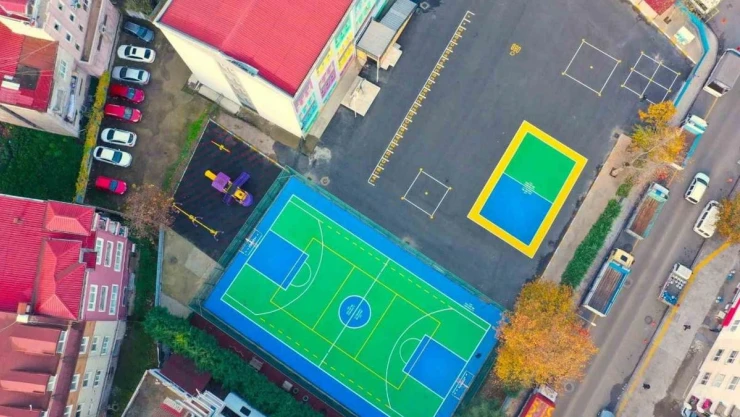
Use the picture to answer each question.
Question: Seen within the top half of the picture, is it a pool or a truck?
truck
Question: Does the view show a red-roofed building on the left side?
Yes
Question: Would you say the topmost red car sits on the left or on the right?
left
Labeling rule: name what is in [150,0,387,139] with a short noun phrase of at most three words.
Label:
building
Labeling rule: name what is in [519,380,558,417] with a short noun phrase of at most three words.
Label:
truck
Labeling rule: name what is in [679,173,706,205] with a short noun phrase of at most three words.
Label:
vehicle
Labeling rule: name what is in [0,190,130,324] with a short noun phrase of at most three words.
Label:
house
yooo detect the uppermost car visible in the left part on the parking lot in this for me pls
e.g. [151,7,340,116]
[121,20,157,45]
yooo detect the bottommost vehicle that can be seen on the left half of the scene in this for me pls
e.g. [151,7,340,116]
[94,175,130,197]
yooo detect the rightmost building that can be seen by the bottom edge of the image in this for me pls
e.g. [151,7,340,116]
[681,305,740,417]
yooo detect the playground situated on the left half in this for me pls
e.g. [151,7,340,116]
[160,119,285,263]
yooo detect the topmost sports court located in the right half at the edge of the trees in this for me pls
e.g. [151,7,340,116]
[465,121,588,259]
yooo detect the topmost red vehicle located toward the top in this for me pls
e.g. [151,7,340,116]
[110,85,147,106]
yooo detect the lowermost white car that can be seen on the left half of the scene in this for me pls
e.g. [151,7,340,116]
[94,145,134,168]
